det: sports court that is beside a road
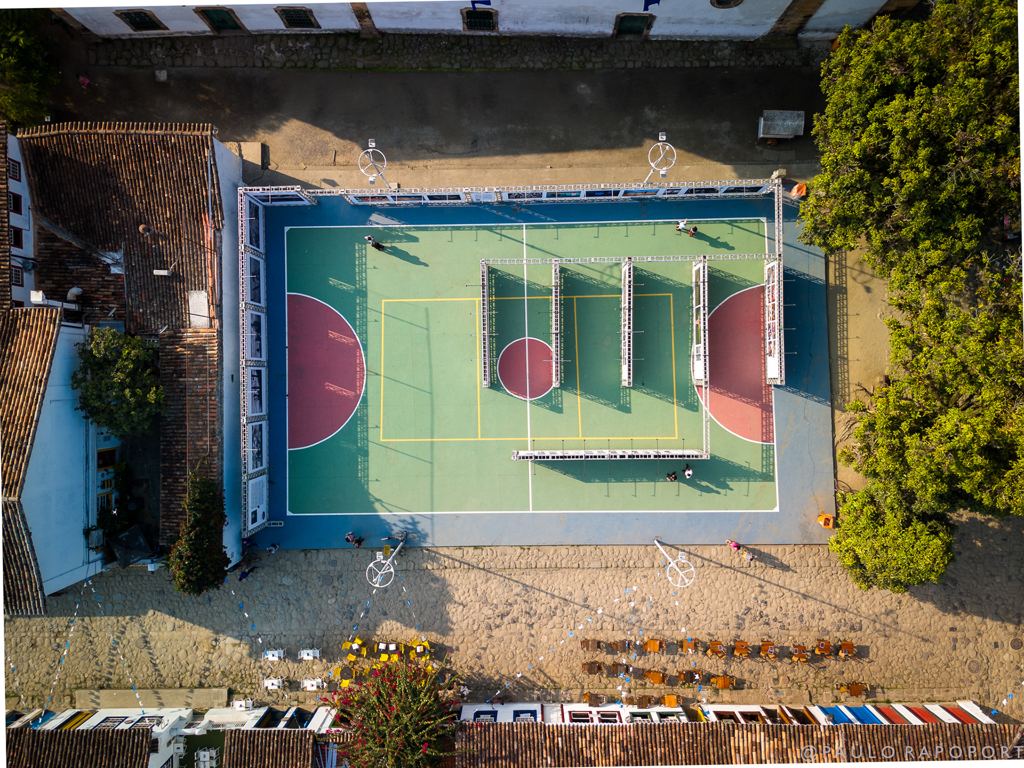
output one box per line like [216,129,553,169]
[240,185,835,550]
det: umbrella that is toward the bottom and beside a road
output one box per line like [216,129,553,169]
[109,524,155,569]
